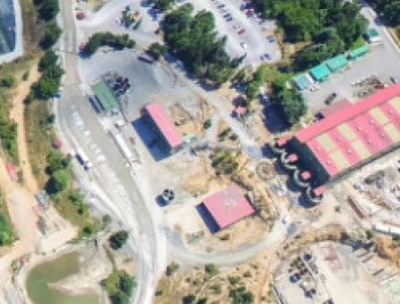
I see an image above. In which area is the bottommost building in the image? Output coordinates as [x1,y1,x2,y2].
[204,182,253,231]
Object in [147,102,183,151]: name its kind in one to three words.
shed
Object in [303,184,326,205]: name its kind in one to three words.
silo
